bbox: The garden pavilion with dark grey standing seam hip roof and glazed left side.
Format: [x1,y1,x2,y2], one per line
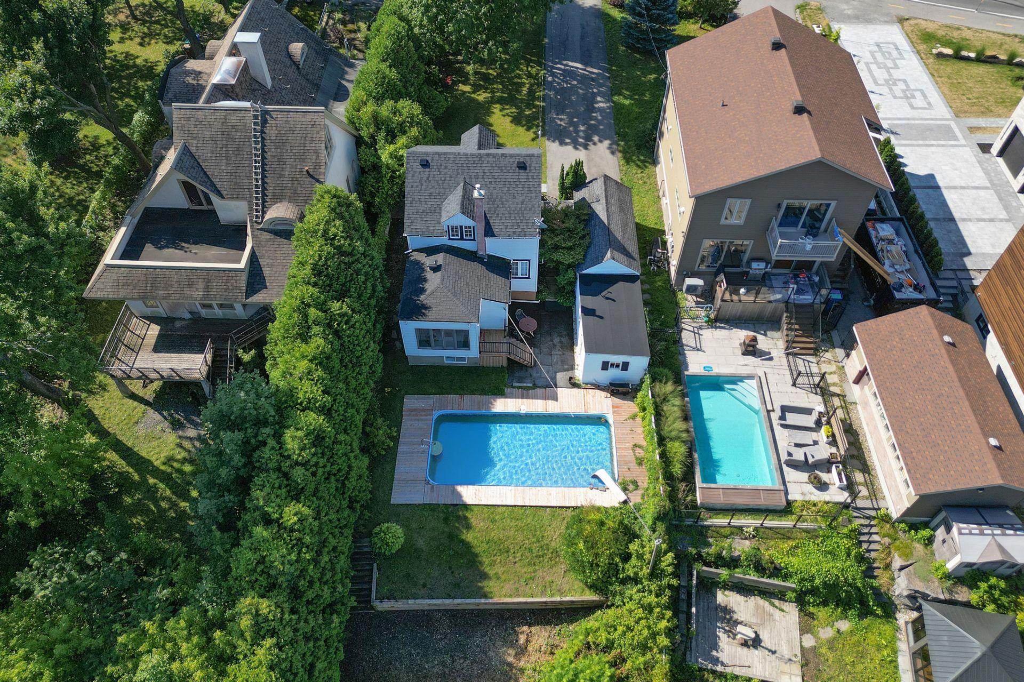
[887,598,1024,682]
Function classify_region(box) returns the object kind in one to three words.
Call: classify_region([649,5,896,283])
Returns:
house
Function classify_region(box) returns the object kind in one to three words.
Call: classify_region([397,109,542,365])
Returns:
house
